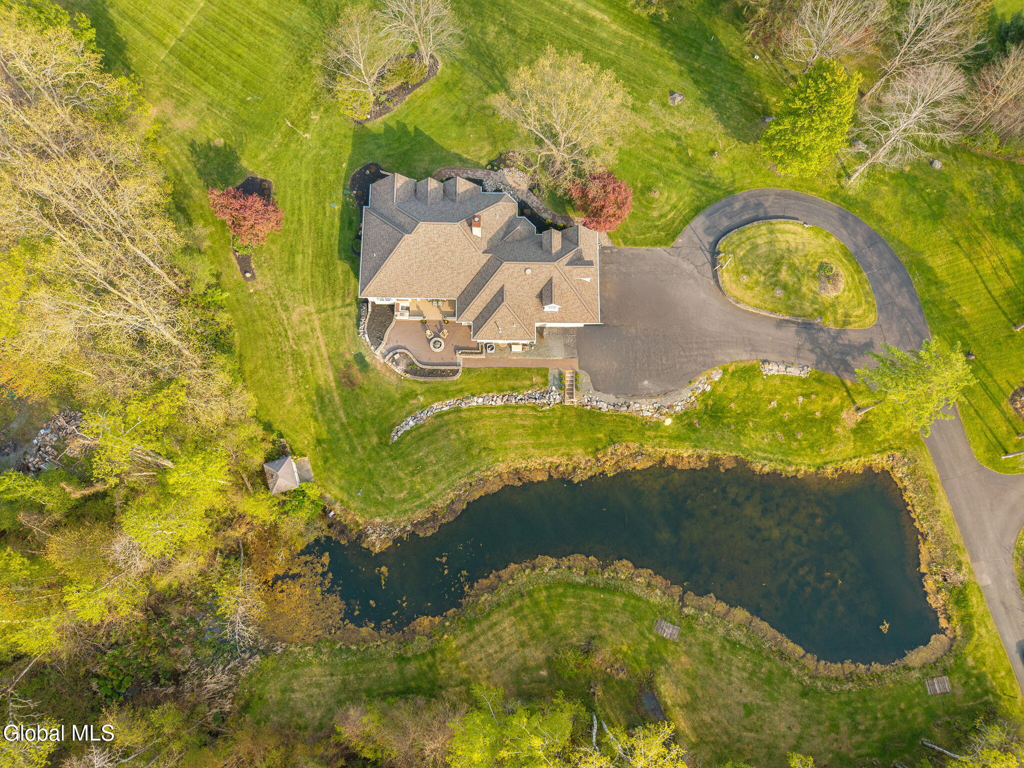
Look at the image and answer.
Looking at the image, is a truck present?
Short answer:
No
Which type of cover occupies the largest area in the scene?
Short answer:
grass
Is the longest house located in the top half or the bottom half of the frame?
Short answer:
top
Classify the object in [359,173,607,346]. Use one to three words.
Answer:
house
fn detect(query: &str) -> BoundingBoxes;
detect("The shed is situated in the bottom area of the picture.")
[267,456,305,496]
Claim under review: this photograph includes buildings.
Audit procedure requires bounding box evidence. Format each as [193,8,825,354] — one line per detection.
[267,456,305,496]
[359,173,607,346]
